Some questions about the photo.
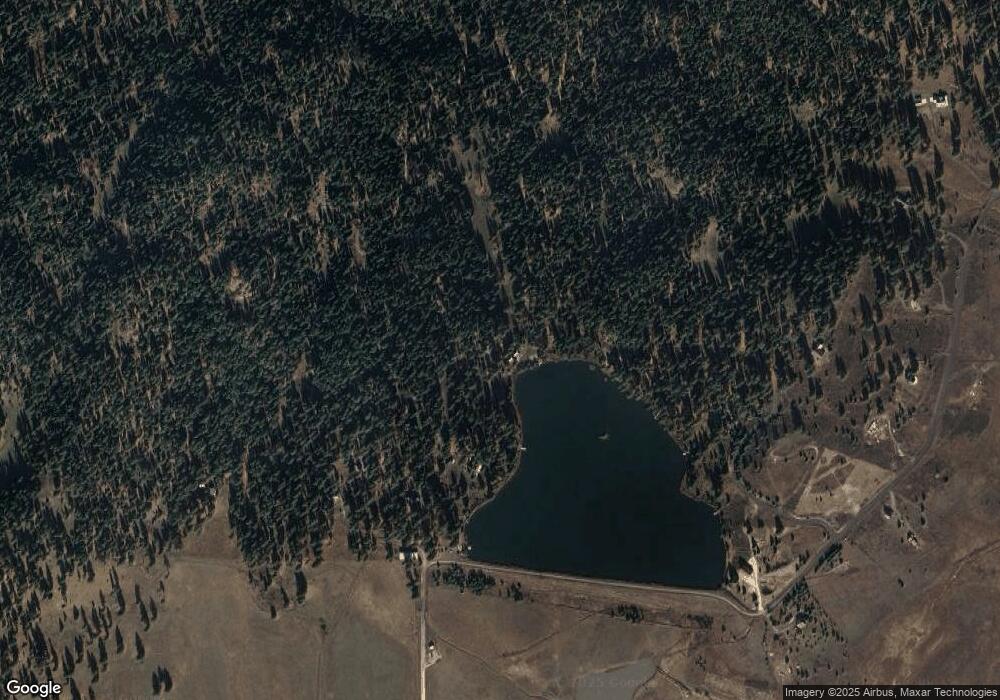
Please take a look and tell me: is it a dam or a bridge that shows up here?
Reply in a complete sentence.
The one in the frame is a dam.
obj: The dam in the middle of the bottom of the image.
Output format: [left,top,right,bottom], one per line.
[425,556,763,615]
